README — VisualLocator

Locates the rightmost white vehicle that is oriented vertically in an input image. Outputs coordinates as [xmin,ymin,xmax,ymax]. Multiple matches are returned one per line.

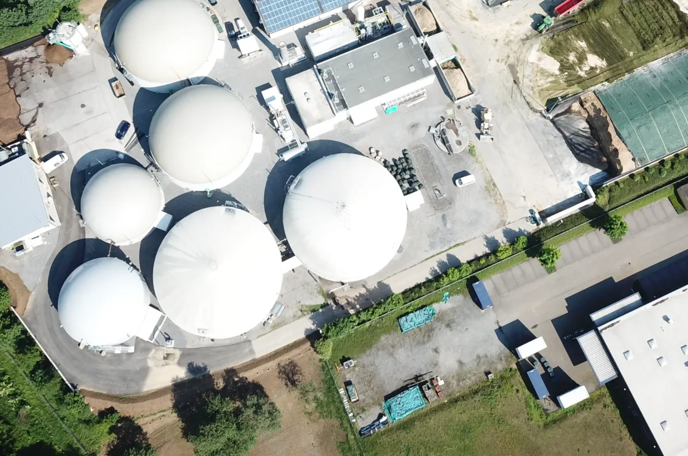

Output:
[481,107,494,140]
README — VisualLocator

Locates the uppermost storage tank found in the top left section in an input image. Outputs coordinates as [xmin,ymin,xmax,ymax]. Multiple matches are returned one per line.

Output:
[108,0,226,94]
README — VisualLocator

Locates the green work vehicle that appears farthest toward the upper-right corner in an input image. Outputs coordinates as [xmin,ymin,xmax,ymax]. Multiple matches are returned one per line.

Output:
[537,14,554,33]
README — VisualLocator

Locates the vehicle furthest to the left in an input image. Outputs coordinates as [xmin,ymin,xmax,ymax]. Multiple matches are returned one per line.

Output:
[39,153,67,172]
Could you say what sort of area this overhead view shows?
industrial area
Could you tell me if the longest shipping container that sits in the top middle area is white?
Yes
